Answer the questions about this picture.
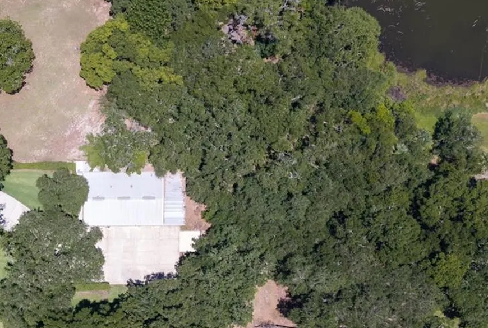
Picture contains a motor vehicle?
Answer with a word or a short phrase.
No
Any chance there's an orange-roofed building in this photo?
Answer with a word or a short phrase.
No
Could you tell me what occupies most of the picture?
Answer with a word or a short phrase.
trees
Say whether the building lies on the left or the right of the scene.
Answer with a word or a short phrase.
left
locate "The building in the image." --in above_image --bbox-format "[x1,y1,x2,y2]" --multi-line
[82,170,184,226]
